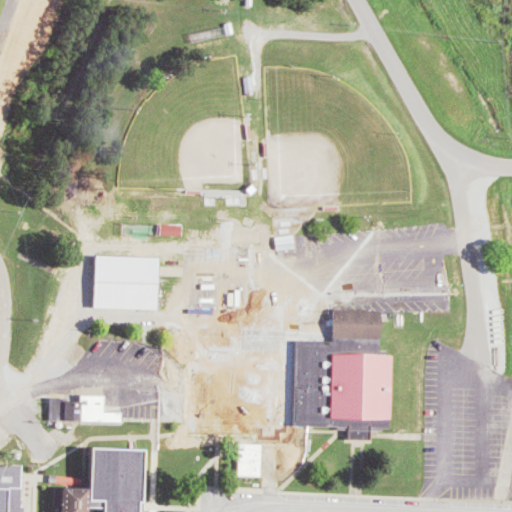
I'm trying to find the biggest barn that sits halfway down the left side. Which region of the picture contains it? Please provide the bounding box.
[94,257,159,310]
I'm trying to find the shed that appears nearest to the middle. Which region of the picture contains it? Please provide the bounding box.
[274,236,296,251]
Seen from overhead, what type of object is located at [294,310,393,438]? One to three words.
building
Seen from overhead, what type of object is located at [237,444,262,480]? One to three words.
building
